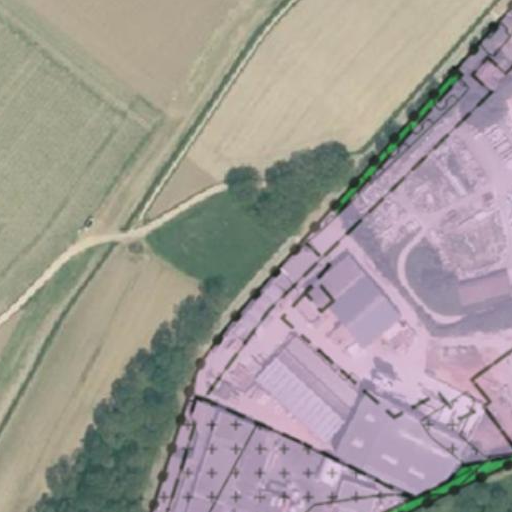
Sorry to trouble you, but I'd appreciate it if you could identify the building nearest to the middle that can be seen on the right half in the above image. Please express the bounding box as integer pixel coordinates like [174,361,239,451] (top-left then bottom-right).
[321,252,366,302]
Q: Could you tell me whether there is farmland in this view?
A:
Yes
